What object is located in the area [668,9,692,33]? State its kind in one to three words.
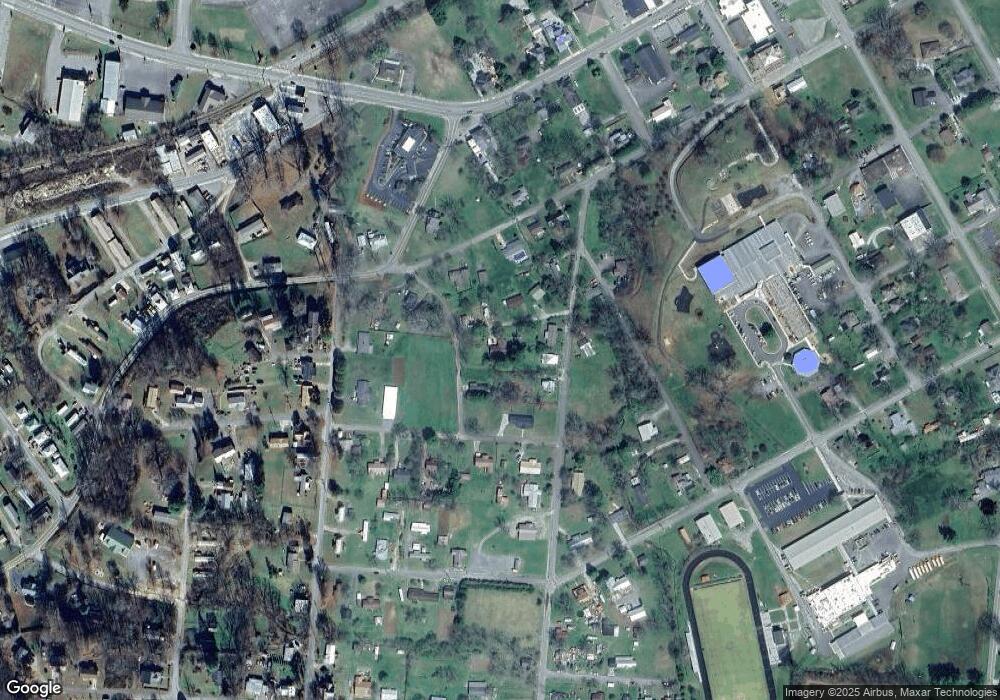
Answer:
building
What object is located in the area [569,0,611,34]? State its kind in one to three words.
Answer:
house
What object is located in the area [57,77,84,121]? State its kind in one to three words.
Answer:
building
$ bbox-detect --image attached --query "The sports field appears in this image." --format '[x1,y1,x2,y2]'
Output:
[690,556,771,700]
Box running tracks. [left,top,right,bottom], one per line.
[683,549,779,700]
